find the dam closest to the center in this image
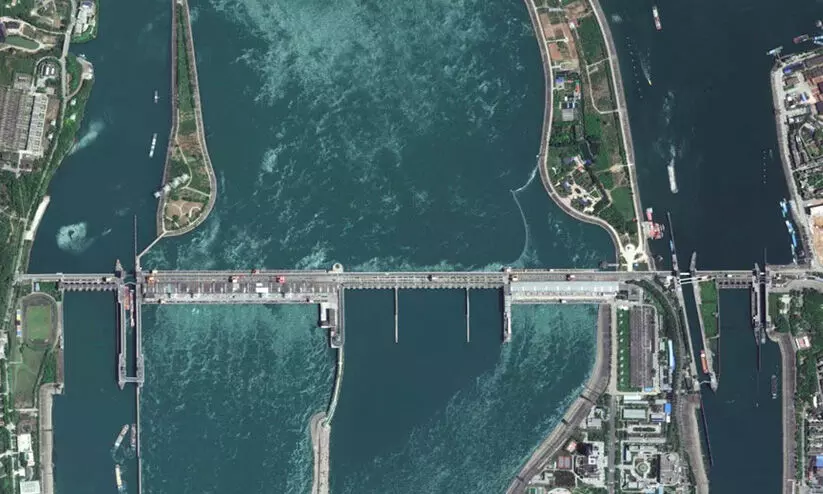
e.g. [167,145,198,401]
[341,271,506,289]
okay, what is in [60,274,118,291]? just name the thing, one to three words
dam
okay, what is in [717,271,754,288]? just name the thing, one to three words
dam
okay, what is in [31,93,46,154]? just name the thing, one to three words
building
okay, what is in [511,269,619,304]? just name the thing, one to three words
building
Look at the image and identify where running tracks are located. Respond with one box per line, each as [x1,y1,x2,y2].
[21,291,58,356]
